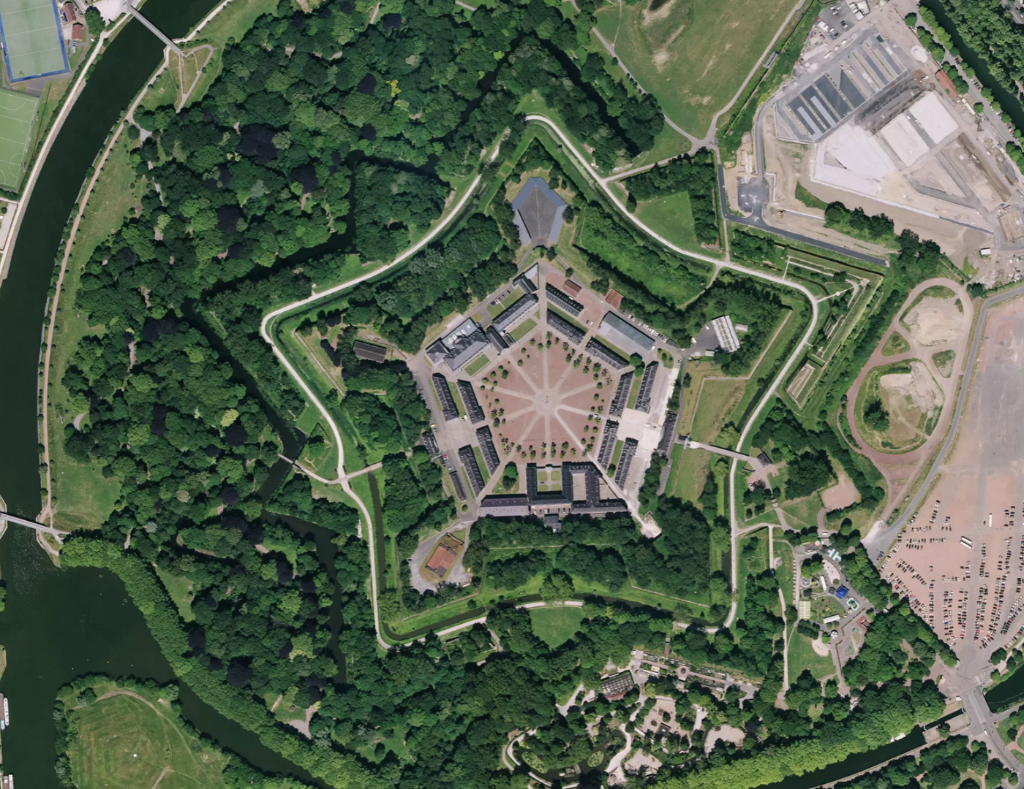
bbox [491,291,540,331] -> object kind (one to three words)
building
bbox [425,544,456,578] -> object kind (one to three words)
house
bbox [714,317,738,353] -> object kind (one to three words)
hangar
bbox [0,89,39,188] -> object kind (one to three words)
soccer field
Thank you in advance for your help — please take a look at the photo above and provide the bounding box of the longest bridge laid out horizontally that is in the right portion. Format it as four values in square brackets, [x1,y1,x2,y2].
[688,439,760,463]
